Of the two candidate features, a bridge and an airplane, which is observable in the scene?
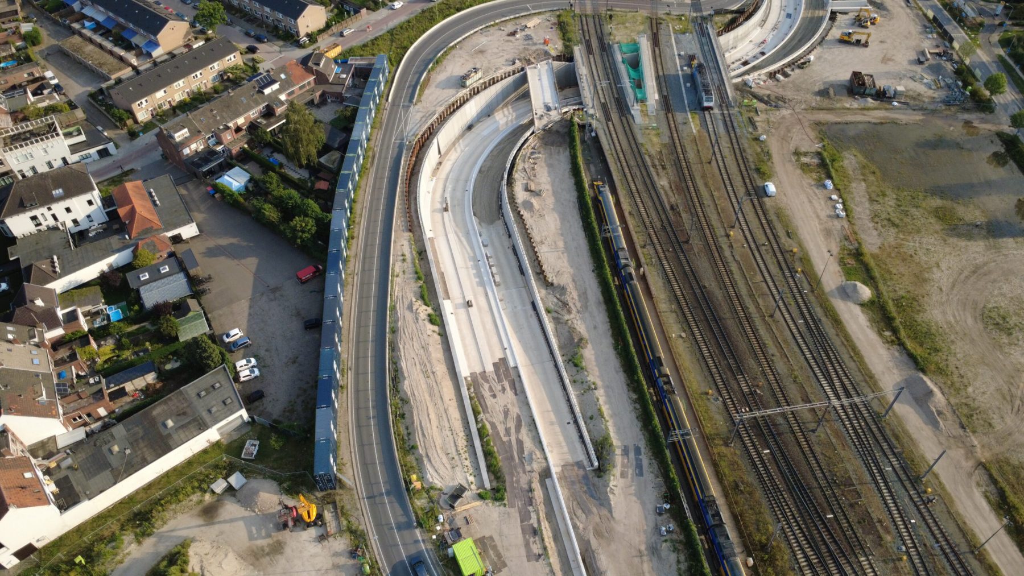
bridge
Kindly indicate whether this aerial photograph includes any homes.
Yes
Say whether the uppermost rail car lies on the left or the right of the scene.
right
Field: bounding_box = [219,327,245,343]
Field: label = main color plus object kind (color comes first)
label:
white car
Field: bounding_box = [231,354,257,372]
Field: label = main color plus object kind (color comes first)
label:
white car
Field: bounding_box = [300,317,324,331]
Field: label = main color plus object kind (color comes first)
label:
black car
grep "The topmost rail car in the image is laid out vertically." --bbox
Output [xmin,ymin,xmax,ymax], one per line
[691,58,714,108]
